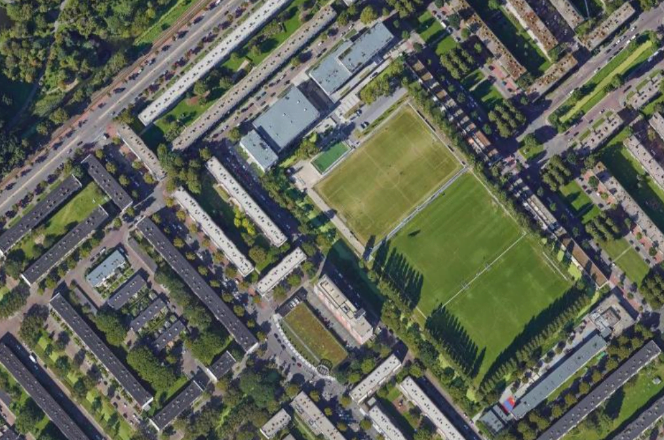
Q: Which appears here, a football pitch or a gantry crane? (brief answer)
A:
football pitch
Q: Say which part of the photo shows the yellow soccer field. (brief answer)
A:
center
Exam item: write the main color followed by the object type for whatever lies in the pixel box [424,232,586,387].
green soccer field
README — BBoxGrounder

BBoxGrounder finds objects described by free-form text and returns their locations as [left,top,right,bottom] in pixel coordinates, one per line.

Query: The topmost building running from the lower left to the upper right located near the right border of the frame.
[581,1,635,52]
